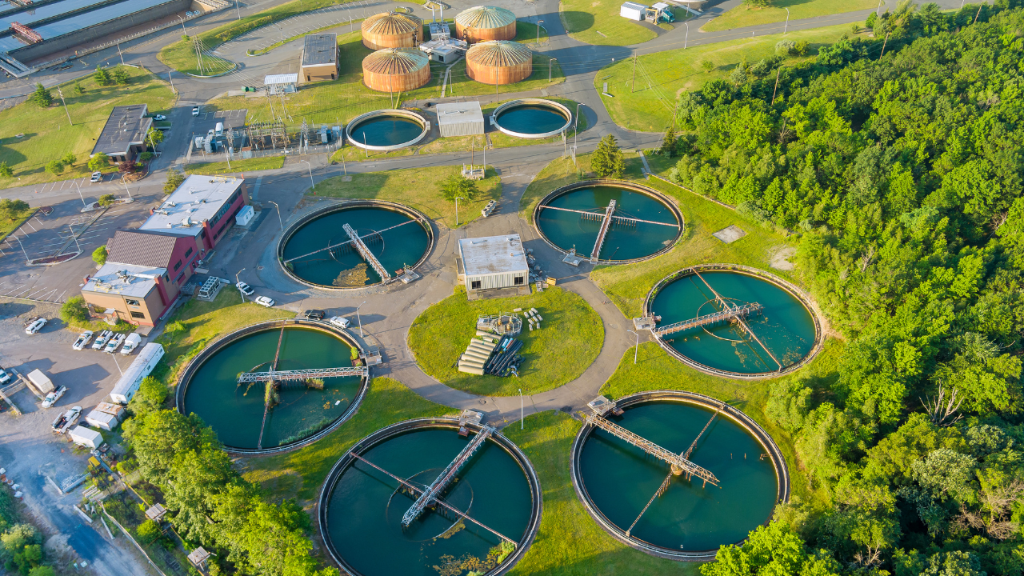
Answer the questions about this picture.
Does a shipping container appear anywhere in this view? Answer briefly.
Yes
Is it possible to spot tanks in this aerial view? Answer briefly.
Yes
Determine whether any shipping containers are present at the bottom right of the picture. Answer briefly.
No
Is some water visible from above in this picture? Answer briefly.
Yes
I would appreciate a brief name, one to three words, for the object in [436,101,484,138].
building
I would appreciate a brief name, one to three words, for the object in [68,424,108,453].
shipping container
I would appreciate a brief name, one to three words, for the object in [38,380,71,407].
truck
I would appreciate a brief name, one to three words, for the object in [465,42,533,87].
storage tank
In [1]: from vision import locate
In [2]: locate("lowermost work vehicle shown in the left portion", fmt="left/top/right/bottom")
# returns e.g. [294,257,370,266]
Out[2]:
[81,452,102,474]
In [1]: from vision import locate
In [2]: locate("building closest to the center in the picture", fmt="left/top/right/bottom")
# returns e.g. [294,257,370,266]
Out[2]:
[452,233,531,304]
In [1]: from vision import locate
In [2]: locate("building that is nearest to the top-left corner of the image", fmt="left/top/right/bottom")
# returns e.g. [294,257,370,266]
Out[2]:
[95,103,153,166]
